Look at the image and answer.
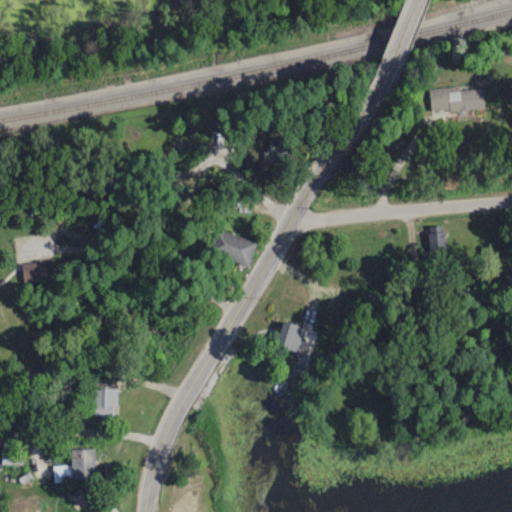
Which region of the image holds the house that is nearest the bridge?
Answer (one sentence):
Look in the top right portion of the view to spot the house that is nearest the bridge.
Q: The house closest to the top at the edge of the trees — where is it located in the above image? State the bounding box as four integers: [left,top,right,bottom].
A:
[431,88,487,114]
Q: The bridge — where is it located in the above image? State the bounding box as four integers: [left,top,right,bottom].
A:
[381,0,429,66]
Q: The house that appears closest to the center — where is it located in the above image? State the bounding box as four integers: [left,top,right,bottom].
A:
[212,231,258,268]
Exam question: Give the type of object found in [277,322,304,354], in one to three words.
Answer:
house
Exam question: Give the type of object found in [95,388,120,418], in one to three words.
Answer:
house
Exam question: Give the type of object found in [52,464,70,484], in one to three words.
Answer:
shed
